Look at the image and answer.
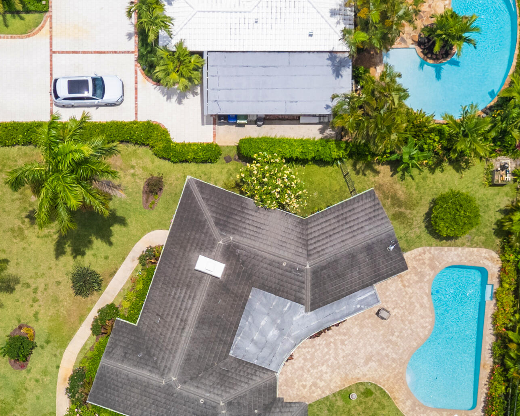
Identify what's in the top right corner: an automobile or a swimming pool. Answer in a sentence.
Looking in the top right corner, you will find a swimming pool.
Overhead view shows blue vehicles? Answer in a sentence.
No, the frame has no blue vehicle in it.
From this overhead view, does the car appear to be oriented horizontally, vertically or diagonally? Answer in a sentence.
The car has been laid out horizontally relative to the frame.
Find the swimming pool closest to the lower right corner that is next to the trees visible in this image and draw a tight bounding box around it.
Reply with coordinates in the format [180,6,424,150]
[403,262,492,412]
